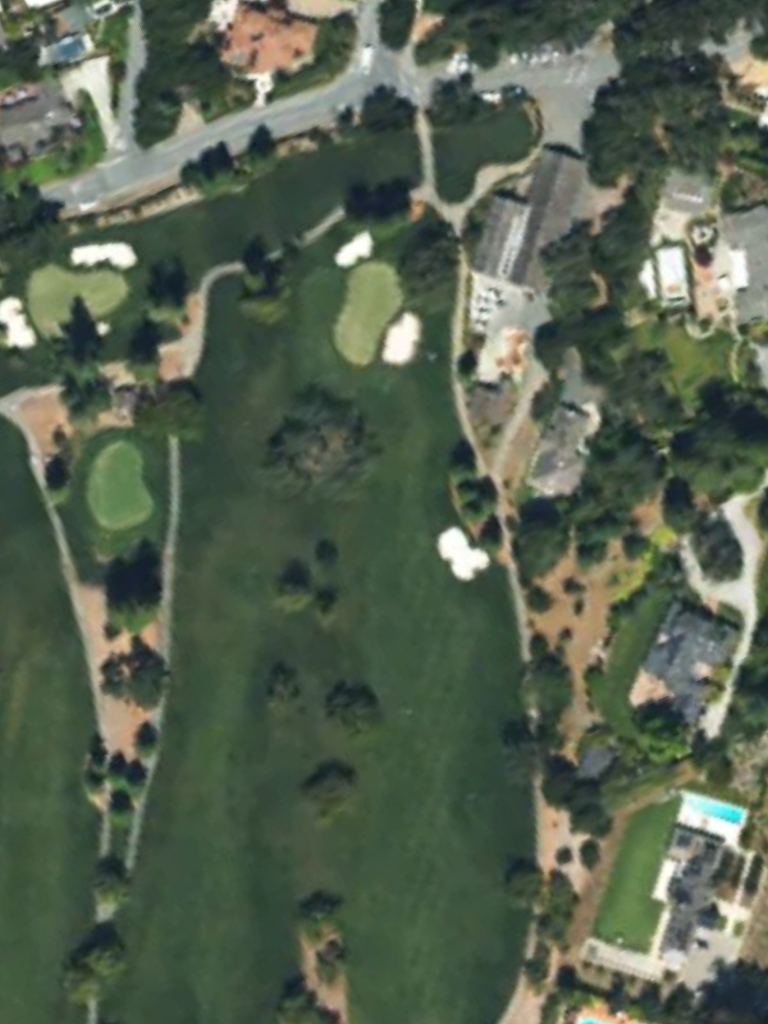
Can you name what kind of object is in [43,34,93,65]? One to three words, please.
swimming pool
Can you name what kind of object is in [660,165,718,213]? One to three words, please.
building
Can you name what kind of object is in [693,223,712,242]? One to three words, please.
fountain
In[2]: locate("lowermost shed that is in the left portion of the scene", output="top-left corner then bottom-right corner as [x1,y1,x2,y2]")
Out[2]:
[114,386,133,418]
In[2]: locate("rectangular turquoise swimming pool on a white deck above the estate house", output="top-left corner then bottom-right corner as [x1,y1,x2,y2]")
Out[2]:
[676,791,747,846]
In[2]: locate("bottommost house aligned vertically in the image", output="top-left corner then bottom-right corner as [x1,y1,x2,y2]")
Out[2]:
[660,819,729,964]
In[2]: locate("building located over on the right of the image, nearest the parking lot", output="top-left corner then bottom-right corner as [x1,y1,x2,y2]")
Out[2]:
[511,147,584,291]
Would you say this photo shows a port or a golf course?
golf course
